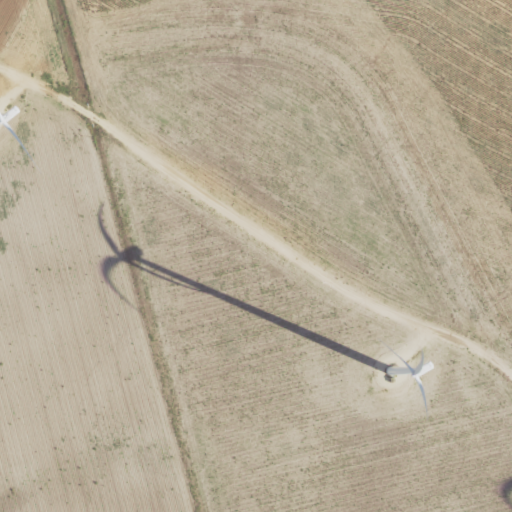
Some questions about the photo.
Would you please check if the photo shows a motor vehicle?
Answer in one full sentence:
No, I can see no motor vehicle in this picture.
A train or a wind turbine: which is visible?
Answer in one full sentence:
This aerial view contains a wind turbine.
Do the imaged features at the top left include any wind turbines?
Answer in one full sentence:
Yes, a wind turbine shows up at the top left.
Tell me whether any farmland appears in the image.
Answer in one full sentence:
Yes, farmland shows up in the scene.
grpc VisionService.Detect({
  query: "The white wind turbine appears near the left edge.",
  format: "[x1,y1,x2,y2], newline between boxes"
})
[0,107,36,168]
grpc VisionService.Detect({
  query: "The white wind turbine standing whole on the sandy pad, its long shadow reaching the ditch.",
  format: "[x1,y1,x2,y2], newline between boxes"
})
[386,343,434,422]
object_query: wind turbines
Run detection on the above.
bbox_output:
[386,343,434,422]
[0,107,36,168]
